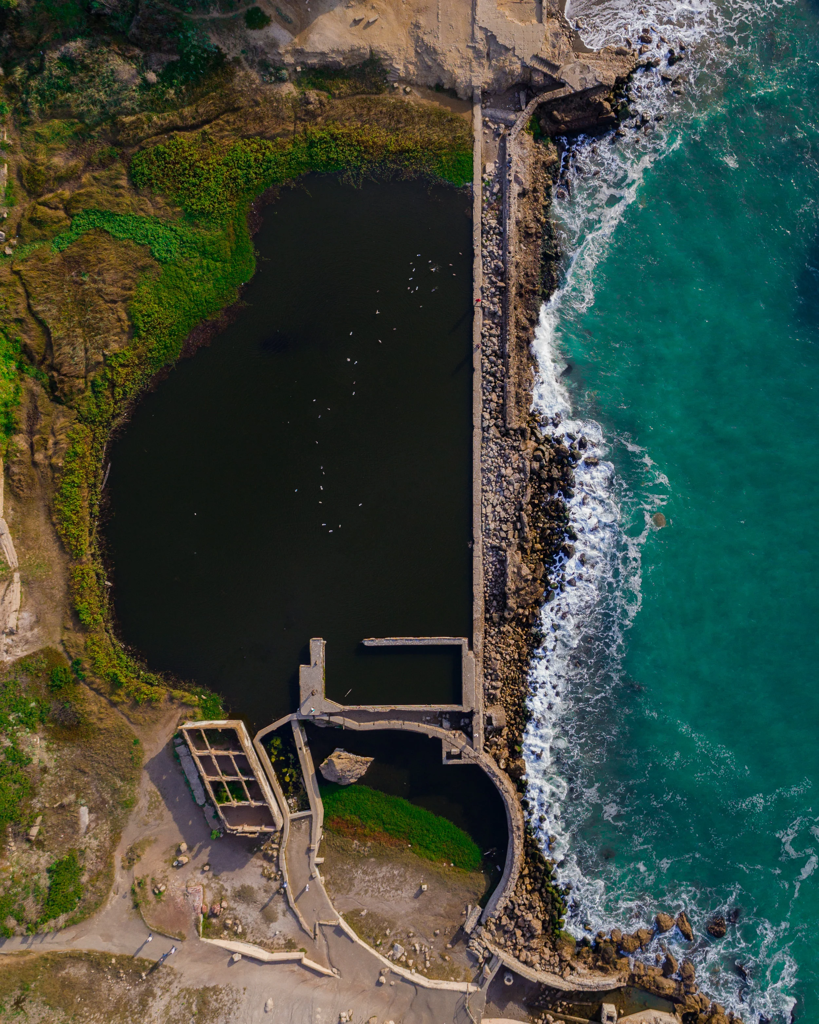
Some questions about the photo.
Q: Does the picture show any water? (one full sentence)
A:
Yes, water shows up in the scene.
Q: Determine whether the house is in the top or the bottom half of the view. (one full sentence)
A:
The bottom half of the photo is where the house is.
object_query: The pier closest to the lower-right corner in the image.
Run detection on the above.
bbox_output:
[462,636,475,711]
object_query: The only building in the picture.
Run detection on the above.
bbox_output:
[179,715,283,836]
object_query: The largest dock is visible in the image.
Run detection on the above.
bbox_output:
[300,637,343,715]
